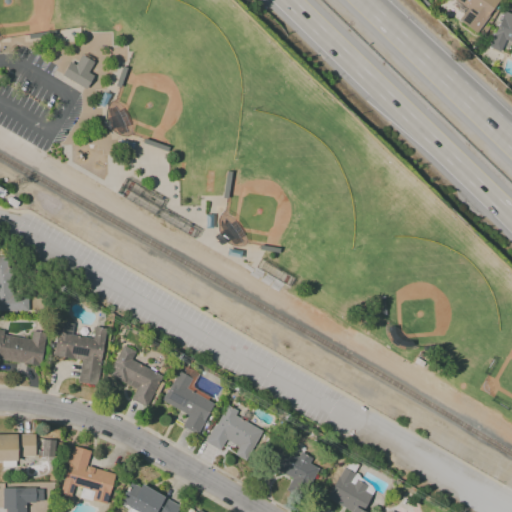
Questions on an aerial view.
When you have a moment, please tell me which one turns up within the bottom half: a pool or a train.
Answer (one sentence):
Visible within the bottom half is a pool.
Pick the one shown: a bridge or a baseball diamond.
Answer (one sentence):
Of the two, only a baseball diamond appears.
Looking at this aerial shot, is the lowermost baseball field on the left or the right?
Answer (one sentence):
It is on the right.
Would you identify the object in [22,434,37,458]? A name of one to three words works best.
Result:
building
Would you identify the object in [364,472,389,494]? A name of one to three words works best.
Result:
swimming pool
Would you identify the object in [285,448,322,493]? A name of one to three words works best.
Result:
house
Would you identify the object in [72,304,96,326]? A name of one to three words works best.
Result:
swimming pool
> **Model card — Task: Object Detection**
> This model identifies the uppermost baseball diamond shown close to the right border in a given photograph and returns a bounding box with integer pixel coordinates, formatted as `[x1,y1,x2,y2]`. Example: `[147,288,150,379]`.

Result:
[387,236,500,349]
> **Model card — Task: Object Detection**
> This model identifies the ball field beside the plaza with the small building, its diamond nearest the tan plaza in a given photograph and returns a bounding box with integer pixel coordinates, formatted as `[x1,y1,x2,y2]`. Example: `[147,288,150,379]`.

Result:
[108,0,242,159]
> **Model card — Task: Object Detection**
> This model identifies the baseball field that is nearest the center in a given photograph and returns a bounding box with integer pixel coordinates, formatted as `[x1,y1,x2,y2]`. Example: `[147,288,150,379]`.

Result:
[219,108,356,248]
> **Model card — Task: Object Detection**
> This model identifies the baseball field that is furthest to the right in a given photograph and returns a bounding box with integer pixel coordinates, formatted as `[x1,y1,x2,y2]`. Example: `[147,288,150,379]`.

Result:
[480,349,512,398]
